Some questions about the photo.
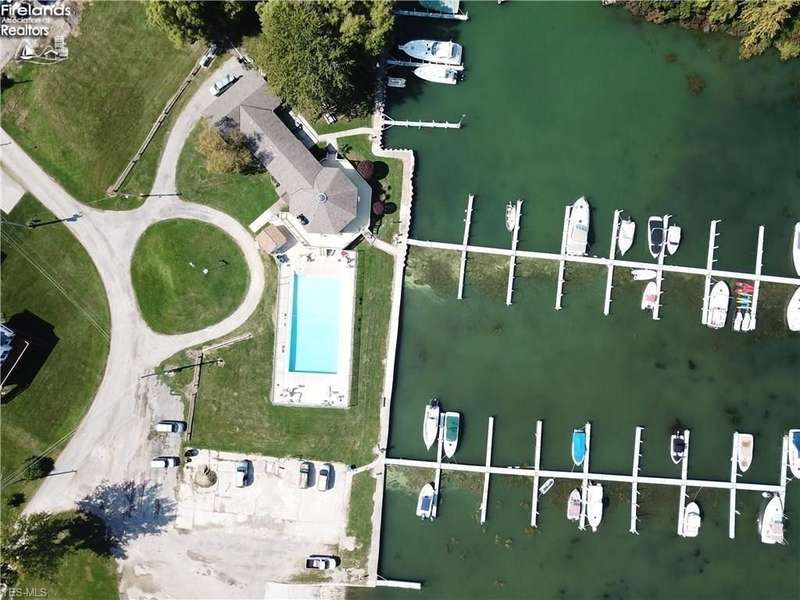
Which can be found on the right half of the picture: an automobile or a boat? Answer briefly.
boat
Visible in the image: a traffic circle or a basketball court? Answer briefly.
traffic circle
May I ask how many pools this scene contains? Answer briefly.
one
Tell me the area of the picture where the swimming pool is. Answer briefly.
center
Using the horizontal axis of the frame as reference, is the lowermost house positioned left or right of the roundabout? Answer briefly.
on its left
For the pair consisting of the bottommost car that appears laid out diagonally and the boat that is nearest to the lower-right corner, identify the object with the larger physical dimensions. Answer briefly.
the boat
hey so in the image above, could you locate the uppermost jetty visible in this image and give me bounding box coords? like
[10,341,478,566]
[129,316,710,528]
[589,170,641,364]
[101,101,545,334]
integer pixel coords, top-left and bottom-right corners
[397,7,468,22]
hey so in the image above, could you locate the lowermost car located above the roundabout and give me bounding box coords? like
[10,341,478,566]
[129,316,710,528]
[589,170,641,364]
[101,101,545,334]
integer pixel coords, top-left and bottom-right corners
[207,70,239,98]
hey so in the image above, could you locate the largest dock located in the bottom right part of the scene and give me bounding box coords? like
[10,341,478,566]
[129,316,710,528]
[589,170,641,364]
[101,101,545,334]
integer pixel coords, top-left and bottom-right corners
[386,412,791,538]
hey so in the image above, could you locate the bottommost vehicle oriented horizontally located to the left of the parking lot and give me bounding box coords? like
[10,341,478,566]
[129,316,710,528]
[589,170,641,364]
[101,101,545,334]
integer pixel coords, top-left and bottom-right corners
[147,458,177,471]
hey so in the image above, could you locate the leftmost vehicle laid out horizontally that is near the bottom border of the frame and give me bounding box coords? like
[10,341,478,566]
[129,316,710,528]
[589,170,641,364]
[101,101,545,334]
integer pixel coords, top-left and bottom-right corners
[305,557,336,573]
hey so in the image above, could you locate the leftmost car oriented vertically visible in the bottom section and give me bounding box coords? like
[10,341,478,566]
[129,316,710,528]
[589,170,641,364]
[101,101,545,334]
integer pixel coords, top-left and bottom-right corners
[231,461,246,489]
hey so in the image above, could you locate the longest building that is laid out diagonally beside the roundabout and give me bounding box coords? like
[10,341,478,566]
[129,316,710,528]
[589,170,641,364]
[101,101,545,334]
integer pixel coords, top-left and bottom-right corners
[211,71,378,248]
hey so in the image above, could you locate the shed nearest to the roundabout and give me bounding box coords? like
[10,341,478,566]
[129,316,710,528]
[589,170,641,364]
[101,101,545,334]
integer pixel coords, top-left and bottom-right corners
[257,223,288,254]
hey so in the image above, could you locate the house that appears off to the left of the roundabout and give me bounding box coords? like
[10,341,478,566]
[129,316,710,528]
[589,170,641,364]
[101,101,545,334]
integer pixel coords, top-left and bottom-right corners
[0,327,34,399]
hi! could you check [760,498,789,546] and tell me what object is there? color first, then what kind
white boat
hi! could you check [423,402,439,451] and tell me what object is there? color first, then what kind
white boat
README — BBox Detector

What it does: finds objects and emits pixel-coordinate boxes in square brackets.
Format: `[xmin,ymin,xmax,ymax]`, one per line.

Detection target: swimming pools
[272,246,358,407]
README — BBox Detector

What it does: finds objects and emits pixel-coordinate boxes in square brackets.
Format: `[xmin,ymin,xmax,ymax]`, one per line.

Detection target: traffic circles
[114,202,265,358]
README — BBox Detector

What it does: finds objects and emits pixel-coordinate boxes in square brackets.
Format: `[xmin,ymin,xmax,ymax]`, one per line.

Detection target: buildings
[211,71,378,248]
[0,327,34,399]
[257,223,288,254]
